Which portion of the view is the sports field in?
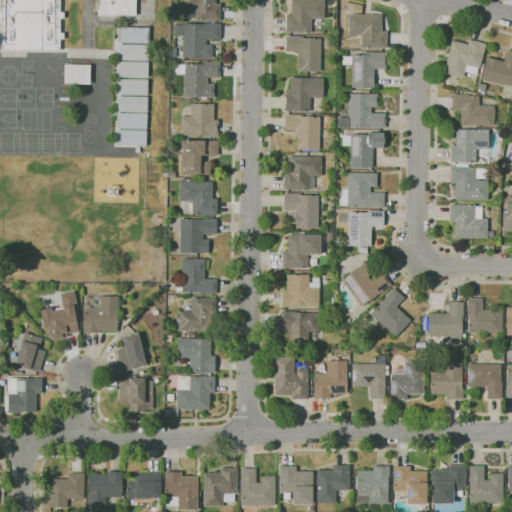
left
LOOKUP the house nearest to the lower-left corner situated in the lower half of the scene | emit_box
[48,473,84,510]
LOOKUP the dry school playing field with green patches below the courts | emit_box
[0,154,148,280]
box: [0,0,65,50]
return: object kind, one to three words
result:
building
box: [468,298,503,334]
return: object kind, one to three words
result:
house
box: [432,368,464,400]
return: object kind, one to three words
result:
house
